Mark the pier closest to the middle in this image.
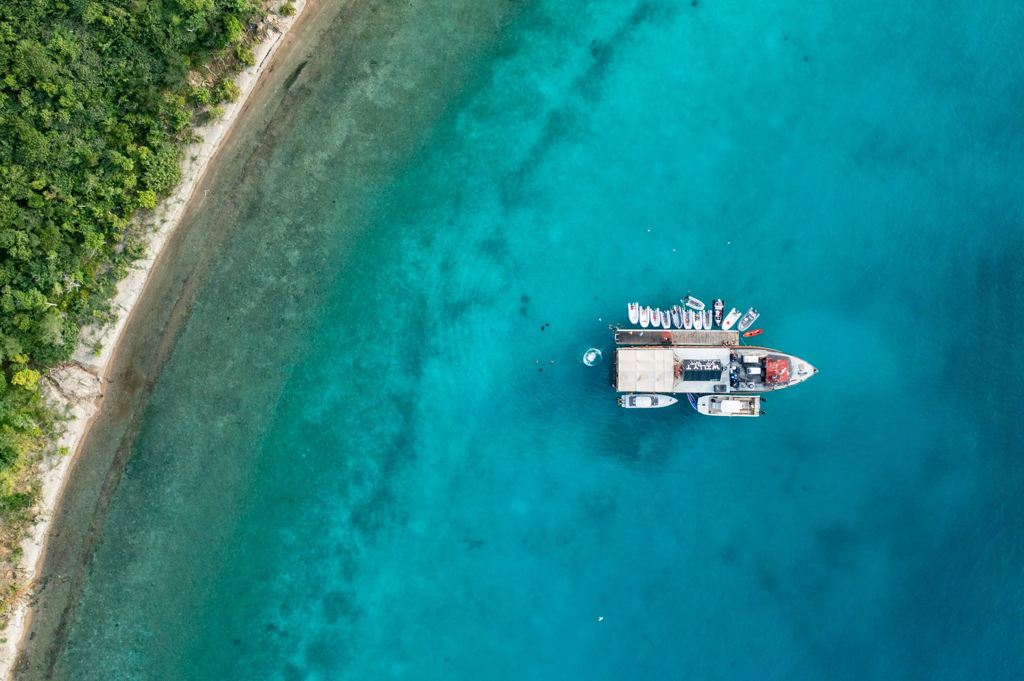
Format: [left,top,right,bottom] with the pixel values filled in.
[614,329,672,344]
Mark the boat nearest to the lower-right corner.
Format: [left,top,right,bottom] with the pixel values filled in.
[697,395,767,418]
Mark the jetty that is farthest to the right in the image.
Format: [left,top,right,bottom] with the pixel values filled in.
[672,330,739,345]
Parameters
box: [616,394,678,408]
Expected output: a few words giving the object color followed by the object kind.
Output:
white boat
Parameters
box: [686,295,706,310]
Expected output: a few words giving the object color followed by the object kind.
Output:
white boat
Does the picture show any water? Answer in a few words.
Yes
